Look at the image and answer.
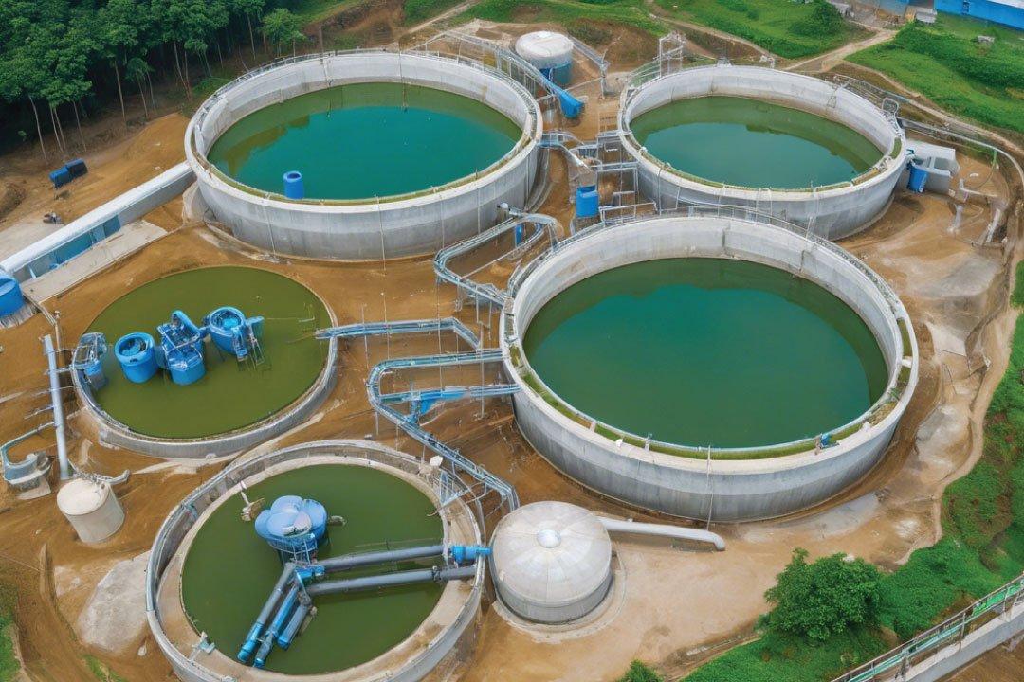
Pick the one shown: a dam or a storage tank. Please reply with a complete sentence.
It is a storage tank that can be seen here.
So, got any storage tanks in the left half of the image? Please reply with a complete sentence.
Yes, you'll find a storage tank in the left half of the image.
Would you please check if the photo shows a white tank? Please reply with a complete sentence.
Yes, the image includes a white tank.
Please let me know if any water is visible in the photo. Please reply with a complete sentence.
Yes, there is water in the image.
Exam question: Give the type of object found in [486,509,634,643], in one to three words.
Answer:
storage tank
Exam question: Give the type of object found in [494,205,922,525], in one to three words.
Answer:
storage tank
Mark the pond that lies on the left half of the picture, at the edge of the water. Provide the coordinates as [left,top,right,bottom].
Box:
[69,272,342,461]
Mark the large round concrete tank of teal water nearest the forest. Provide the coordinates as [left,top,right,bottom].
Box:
[183,39,538,265]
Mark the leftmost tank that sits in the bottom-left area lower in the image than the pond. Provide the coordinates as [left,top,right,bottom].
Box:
[57,475,131,552]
